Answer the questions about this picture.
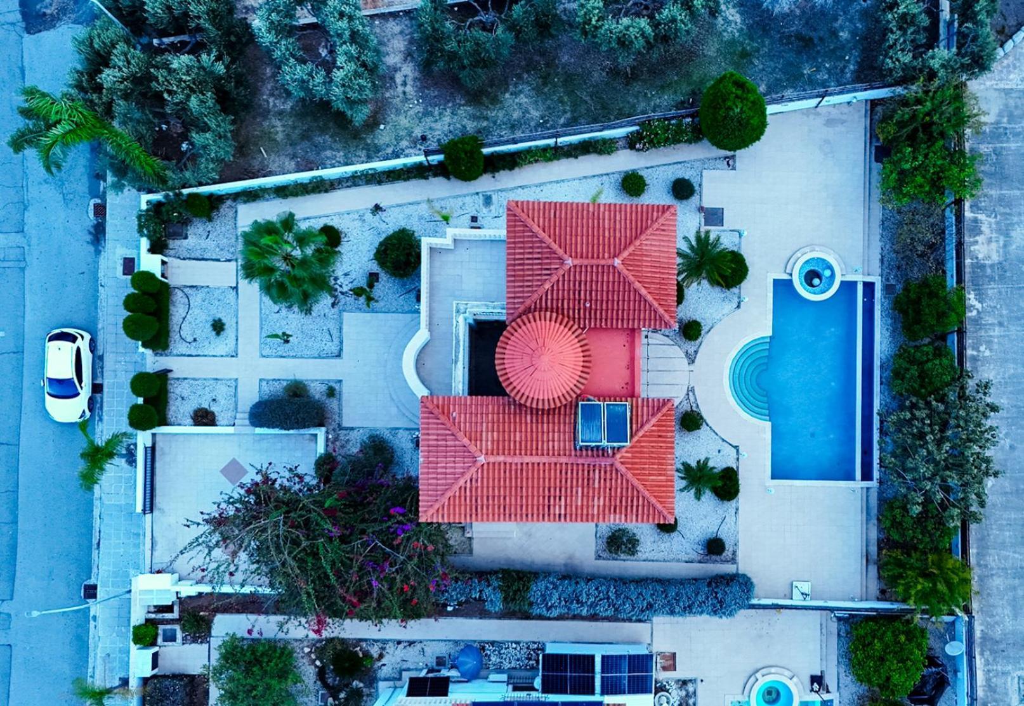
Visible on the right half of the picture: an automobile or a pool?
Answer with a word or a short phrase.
pool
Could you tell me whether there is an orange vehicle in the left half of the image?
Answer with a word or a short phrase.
No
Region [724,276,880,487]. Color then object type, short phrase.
blue swimming pool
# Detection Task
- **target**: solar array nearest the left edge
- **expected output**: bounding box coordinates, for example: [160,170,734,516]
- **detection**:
[407,675,449,698]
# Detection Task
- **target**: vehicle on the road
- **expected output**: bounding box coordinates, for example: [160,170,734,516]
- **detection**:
[42,329,95,424]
